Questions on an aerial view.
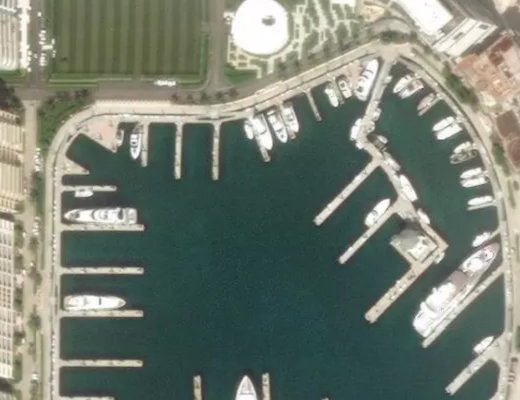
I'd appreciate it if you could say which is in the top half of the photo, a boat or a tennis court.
boat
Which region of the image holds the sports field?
top left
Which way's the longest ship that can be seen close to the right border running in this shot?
on a diagonal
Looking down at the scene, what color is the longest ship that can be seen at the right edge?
white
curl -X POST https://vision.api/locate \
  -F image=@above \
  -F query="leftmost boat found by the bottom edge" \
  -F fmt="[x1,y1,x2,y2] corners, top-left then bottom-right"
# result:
[235,374,255,400]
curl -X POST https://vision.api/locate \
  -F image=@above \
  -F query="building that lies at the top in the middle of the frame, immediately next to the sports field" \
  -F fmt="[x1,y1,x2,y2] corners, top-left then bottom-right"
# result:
[230,0,291,60]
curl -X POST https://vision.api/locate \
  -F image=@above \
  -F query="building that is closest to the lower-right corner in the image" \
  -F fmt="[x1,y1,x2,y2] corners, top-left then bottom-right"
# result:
[391,224,439,265]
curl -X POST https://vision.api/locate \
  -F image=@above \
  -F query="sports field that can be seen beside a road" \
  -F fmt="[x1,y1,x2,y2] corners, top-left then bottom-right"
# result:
[47,0,203,80]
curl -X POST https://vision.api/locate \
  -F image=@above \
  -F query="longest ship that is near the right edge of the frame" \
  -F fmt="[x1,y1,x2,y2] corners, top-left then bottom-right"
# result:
[413,243,500,338]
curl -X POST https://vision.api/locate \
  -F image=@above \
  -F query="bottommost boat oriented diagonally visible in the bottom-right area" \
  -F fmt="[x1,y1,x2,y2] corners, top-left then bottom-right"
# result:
[472,337,494,354]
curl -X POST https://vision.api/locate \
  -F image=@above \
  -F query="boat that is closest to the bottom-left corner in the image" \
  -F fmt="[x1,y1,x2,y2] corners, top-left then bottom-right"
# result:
[62,296,125,310]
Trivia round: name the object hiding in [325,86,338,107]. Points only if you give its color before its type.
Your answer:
white boat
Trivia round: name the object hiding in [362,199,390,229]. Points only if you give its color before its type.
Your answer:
white boat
